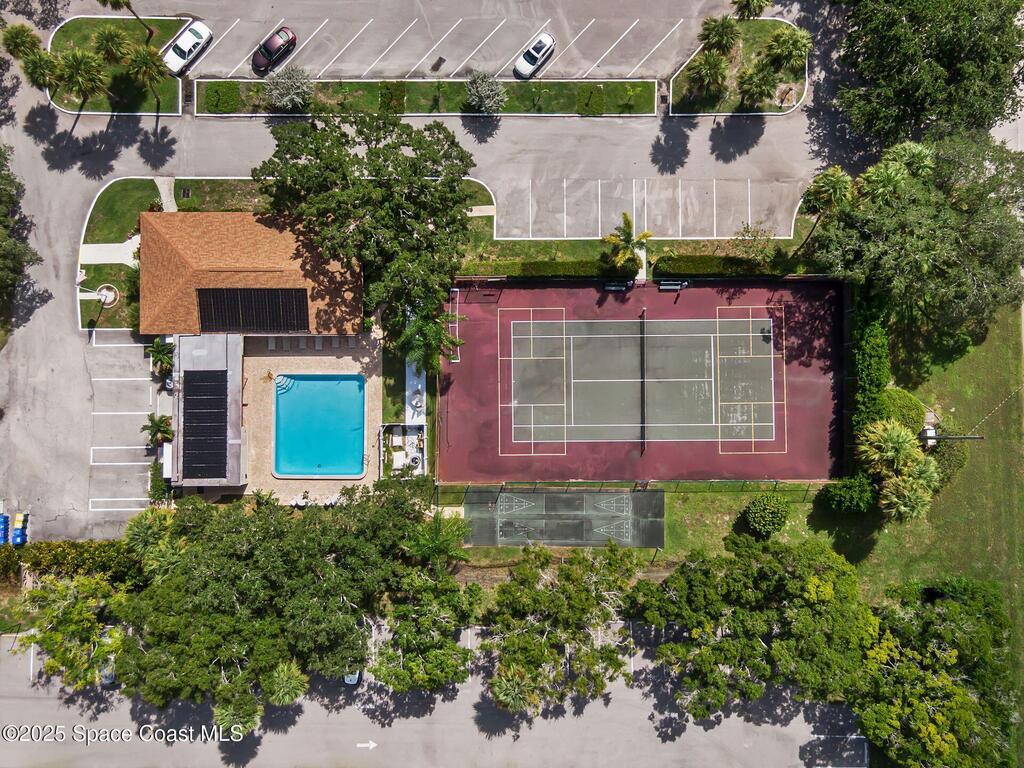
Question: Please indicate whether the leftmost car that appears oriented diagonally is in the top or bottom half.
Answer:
top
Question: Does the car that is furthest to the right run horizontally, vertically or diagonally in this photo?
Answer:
diagonally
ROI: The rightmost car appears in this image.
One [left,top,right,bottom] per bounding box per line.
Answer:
[514,31,555,80]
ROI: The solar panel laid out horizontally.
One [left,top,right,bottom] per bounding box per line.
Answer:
[198,289,315,335]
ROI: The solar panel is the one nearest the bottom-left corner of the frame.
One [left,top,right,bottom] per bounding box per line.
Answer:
[183,369,227,479]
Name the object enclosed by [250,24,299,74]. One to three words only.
car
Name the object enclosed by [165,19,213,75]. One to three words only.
car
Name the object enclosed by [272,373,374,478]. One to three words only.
swimming pool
